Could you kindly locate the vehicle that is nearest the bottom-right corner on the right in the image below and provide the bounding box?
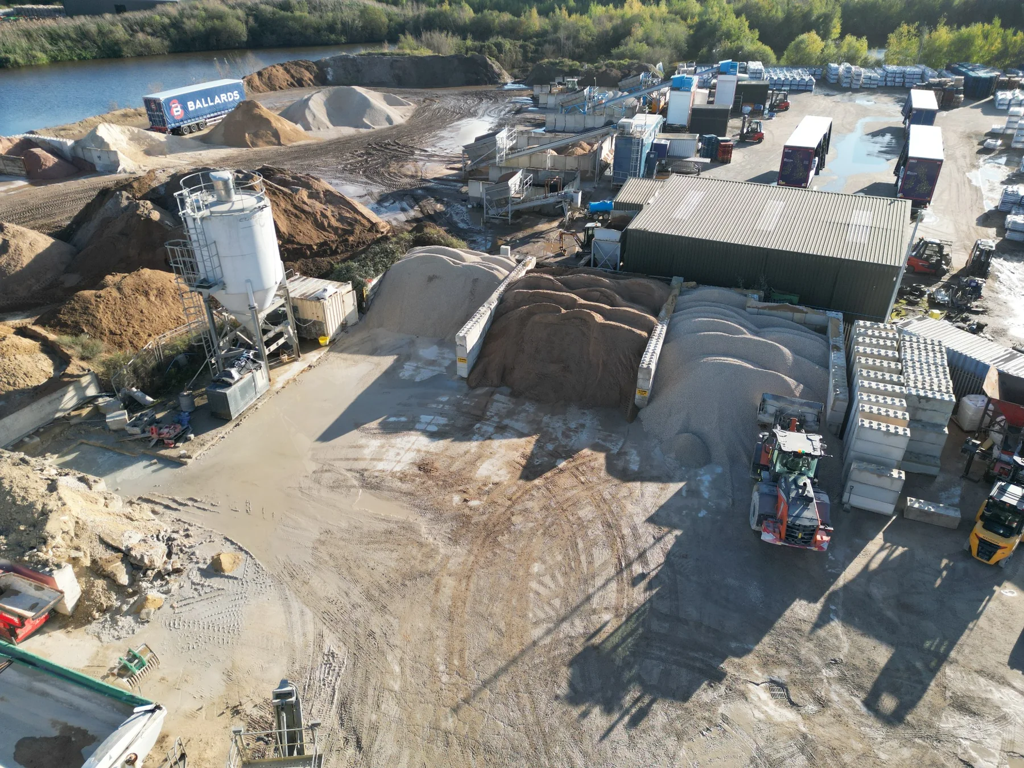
[969,472,1024,567]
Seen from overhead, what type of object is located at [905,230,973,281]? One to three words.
work vehicle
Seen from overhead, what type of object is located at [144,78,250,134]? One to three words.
trailer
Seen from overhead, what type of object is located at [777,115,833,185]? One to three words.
trailer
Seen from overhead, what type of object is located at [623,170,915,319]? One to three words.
shed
